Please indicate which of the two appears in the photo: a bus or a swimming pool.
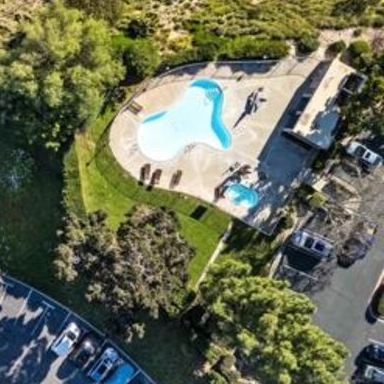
swimming pool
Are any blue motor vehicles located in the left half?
Yes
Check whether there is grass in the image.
Yes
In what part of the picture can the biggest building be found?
top right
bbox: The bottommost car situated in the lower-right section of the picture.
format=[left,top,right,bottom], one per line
[360,362,384,384]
